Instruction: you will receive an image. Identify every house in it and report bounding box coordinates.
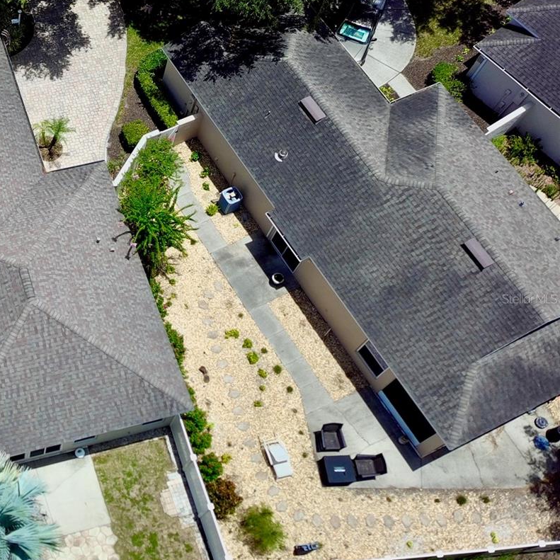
[463,0,560,167]
[0,33,195,456]
[162,6,560,455]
